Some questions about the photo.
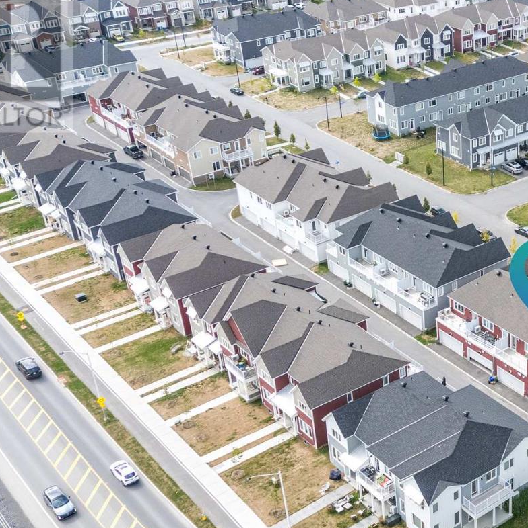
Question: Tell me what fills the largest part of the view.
buildings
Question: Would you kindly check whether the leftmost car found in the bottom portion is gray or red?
gray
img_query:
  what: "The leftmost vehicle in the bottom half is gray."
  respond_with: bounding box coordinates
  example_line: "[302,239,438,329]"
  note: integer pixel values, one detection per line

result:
[17,360,41,381]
